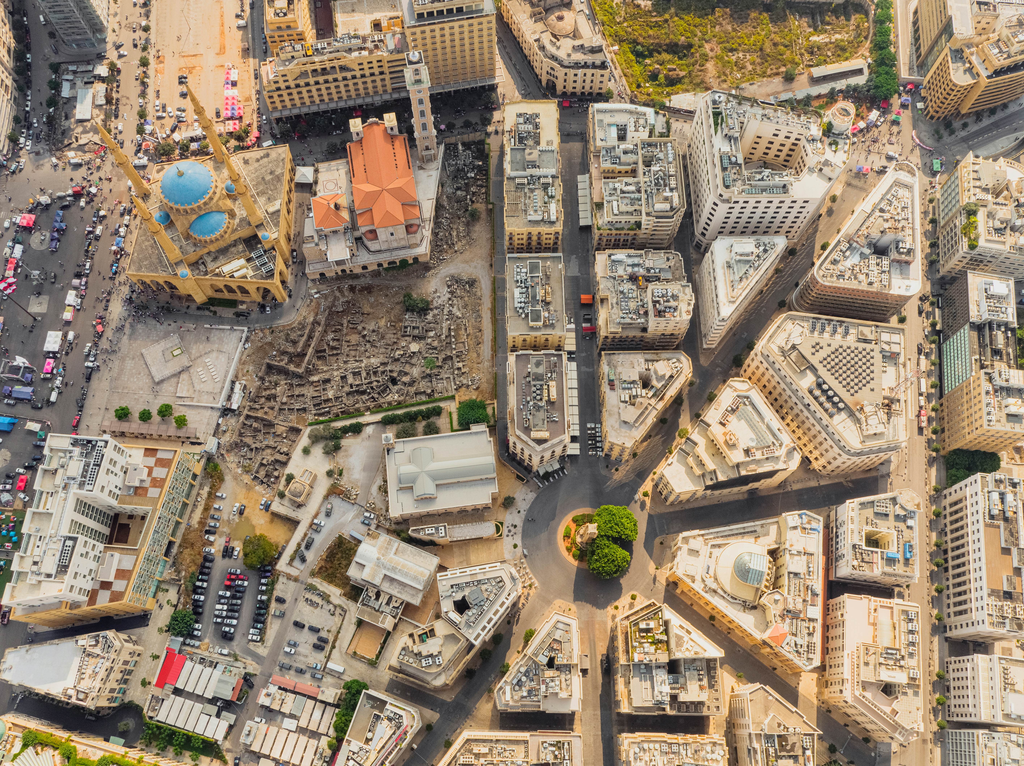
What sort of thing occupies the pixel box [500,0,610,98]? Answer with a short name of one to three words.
building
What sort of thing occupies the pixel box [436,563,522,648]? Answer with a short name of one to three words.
building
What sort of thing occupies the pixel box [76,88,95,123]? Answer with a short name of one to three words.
shed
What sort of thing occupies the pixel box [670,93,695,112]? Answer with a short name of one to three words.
shed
